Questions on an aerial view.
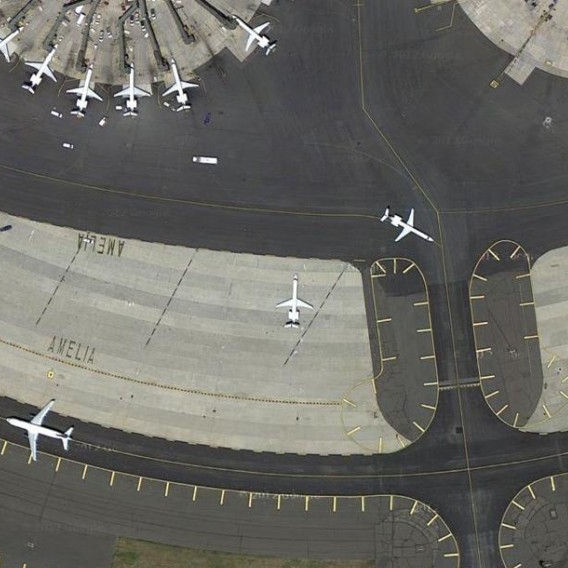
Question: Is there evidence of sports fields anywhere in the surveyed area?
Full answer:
No, I can see no sports field in this picture.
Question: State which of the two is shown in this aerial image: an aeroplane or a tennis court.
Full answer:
Visible in the photo is an aeroplane.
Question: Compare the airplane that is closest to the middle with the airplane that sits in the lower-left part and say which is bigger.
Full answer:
Of the two, the airplane that sits in the lower-left part is larger and the airplane that is closest to the middle is the smaller one.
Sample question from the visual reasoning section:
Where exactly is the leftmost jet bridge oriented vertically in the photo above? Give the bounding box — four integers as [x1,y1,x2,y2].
[77,0,100,70]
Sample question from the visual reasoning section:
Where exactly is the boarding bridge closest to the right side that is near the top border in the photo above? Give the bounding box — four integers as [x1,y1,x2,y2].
[197,0,237,28]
